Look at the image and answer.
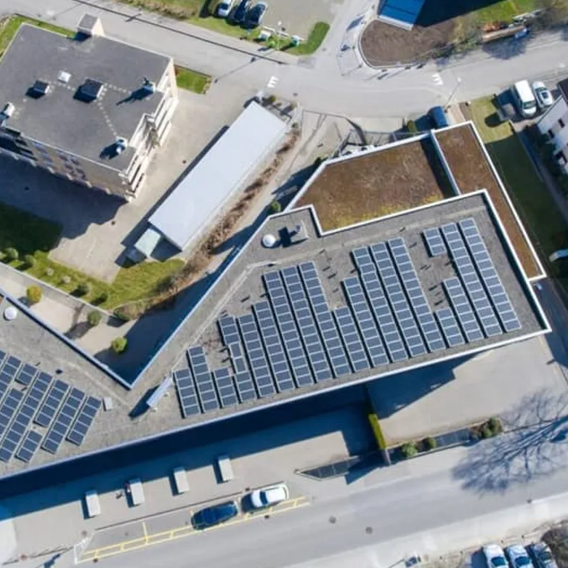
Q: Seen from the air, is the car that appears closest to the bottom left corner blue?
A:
Yes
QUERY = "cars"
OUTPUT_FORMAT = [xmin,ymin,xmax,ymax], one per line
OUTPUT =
[194,503,235,527]
[529,539,556,568]
[247,485,287,509]
[234,0,254,25]
[531,81,553,110]
[483,546,508,568]
[506,543,531,568]
[428,104,447,132]
[217,0,236,19]
[250,0,271,28]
